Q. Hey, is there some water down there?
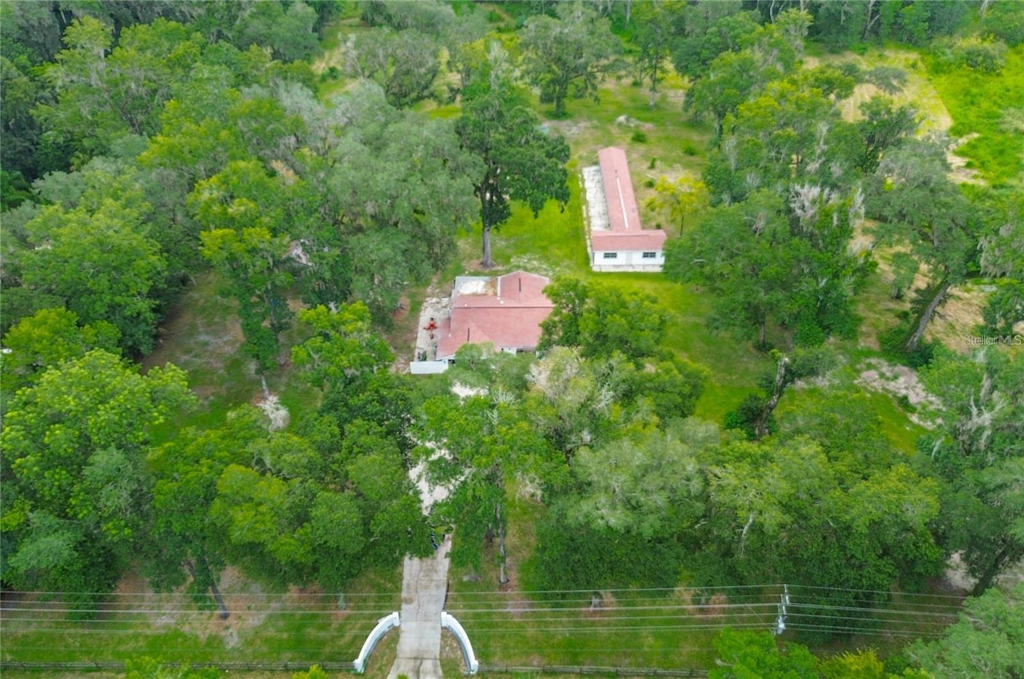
No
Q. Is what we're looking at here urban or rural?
rural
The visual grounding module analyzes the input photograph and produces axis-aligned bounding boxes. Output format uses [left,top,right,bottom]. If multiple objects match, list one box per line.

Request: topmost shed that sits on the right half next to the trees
[590,147,669,265]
